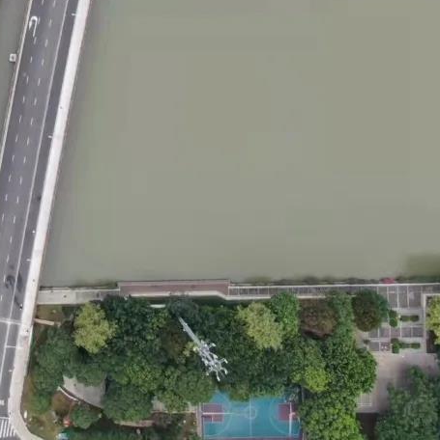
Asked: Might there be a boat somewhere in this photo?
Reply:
No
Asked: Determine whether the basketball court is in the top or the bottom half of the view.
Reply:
bottom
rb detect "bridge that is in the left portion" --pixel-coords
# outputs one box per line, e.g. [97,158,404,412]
[0,0,91,325]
